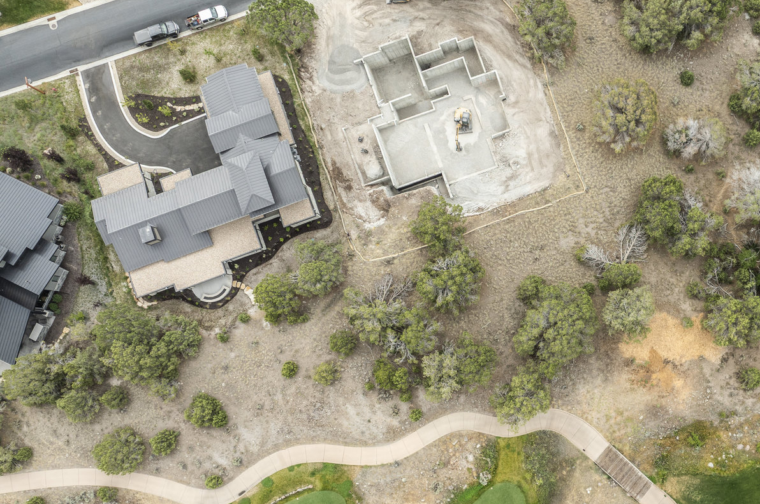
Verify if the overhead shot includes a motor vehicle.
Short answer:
Yes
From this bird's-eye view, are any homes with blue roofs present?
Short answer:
No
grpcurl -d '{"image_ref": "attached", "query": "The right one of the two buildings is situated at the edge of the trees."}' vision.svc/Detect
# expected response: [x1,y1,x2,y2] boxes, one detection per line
[91,64,325,298]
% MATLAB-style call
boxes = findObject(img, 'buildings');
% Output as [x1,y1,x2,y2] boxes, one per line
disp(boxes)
[0,172,83,365]
[91,64,325,298]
